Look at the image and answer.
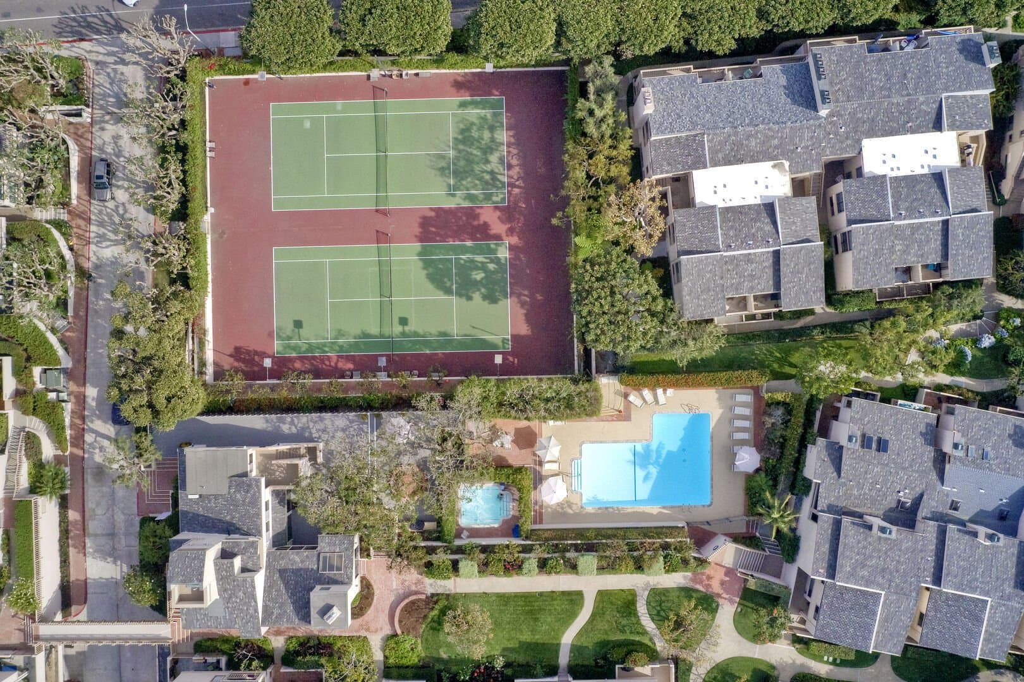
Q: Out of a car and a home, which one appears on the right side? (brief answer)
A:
home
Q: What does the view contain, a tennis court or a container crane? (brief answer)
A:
tennis court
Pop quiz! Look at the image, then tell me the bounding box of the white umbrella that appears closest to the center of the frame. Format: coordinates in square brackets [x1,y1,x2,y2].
[535,434,561,461]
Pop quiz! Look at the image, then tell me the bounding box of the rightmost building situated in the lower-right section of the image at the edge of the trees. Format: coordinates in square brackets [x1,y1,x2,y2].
[908,388,1024,666]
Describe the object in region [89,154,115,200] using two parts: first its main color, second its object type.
gray car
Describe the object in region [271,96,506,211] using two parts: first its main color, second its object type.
green tennis court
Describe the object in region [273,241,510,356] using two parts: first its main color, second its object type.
green tennis court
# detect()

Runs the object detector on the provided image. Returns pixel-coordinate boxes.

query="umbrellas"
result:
[535,434,561,461]
[733,445,761,473]
[540,476,568,504]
